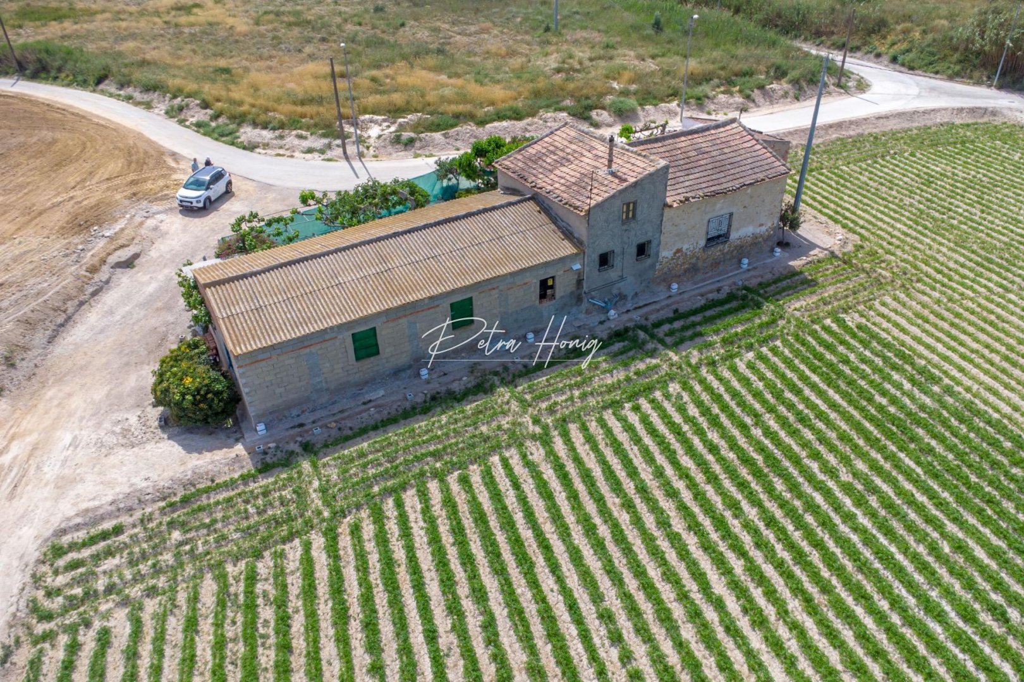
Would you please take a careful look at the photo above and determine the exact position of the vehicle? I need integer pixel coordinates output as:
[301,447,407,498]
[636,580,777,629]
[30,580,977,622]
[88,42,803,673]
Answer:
[172,164,232,208]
